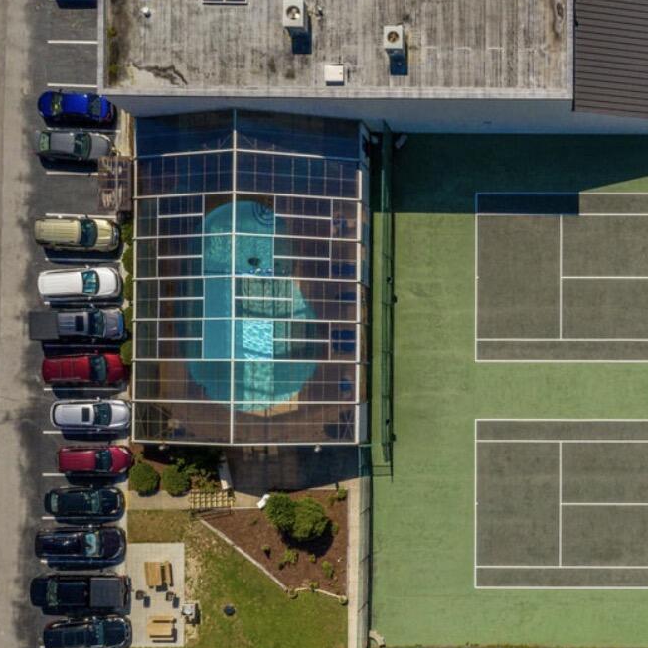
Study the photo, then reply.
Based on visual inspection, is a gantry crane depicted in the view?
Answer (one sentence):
No, no gantry crane is visible in the view.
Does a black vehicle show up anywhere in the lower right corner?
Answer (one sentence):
No, no black vehicle appears in the lower right corner.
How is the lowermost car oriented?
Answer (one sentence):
I'd say the lowermost car is aligned from side to side in the picture.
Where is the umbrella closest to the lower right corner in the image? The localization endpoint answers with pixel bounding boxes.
[341,378,358,390]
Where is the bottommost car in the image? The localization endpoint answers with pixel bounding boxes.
[47,614,135,647]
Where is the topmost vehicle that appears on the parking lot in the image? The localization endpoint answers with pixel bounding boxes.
[39,89,120,124]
